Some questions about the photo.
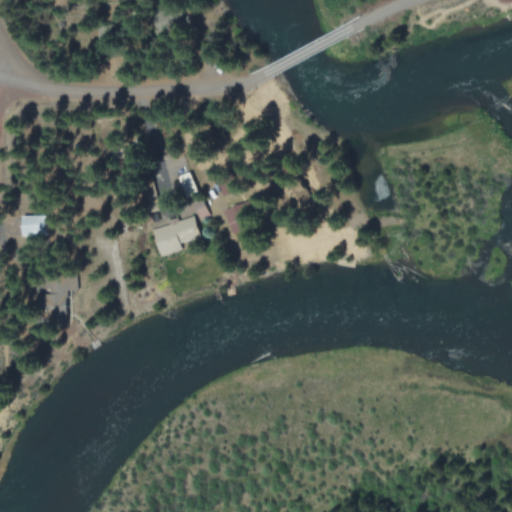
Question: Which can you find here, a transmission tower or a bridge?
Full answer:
There is a bridge in the scene.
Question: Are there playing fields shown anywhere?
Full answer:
No, the picture doesn't show any playing field.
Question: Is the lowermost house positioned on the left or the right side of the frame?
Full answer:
The lowermost house appears in the left half of the scene.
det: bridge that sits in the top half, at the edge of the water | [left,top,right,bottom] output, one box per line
[248,17,367,83]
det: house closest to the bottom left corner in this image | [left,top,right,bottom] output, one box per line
[49,276,78,322]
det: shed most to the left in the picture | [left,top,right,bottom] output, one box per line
[21,216,45,238]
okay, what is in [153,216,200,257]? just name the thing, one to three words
house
